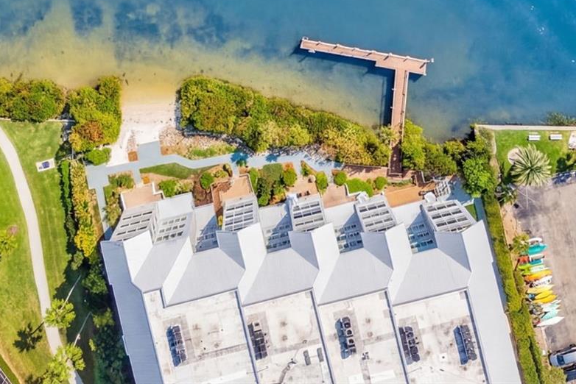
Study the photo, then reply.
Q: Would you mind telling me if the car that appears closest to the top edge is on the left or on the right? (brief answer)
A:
right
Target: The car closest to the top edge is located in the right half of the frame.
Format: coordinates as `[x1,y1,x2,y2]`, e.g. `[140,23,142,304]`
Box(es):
[548,345,576,367]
